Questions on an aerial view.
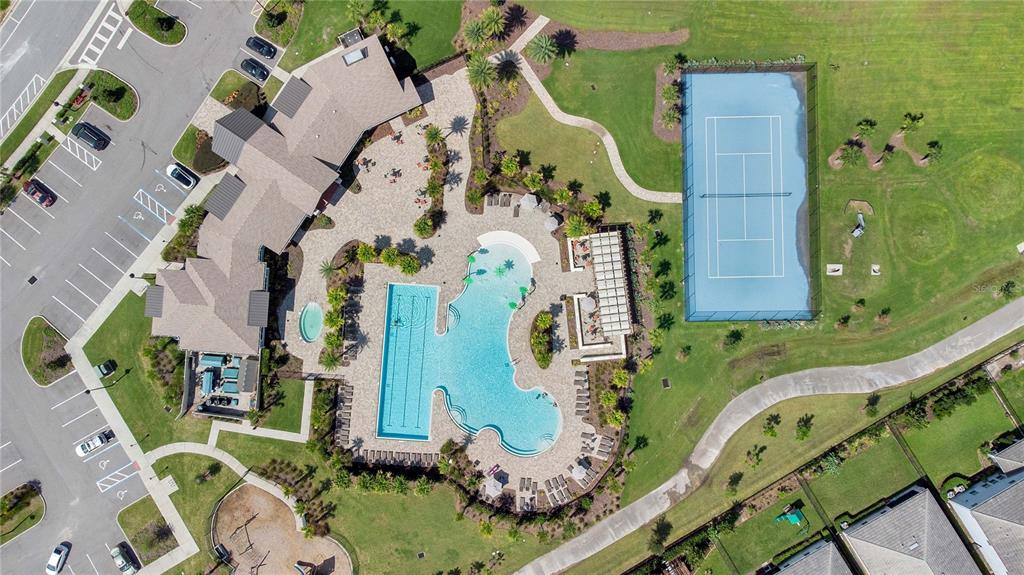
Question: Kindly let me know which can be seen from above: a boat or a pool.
pool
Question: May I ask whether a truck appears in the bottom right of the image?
No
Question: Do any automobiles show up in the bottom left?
Yes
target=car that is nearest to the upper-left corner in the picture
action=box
[72,123,110,149]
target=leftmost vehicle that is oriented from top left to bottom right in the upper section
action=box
[23,180,56,206]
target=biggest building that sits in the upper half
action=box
[145,34,422,356]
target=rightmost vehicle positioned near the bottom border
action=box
[110,546,140,575]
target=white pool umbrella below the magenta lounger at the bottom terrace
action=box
[484,477,503,496]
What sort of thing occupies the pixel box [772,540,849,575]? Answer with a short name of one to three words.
house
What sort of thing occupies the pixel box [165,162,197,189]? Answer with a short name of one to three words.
car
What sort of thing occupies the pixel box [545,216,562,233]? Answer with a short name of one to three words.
umbrella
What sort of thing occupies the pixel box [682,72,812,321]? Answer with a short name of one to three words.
tennis court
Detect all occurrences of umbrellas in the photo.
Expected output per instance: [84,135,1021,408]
[484,477,503,496]
[518,194,537,213]
[580,296,596,311]
[570,463,587,480]
[545,216,562,233]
